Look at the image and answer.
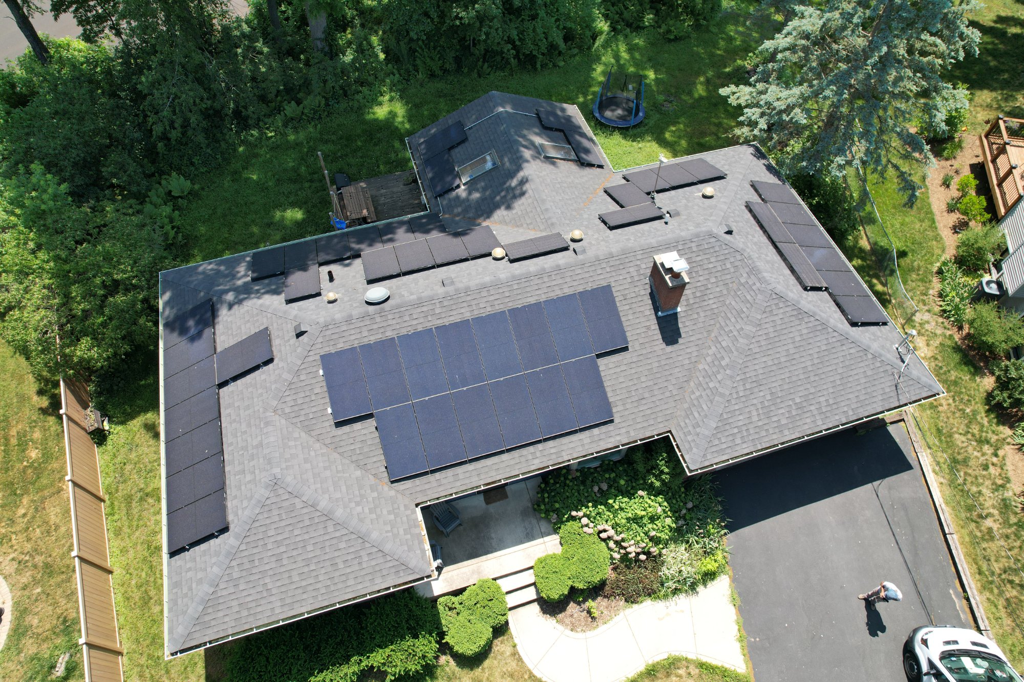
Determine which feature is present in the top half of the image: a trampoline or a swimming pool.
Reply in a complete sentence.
It is a trampoline that can be seen in the top half of the image.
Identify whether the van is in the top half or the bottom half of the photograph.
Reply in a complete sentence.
The van is in the bottom half of the image.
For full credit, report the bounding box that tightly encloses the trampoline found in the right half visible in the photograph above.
[593,62,654,137]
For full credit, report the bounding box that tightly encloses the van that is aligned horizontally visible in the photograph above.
[903,627,1016,682]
